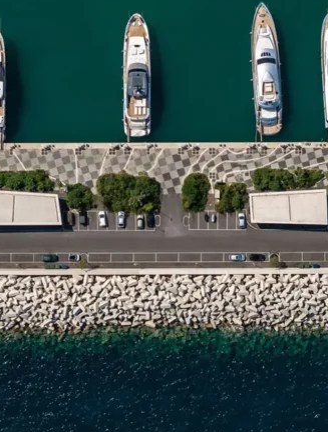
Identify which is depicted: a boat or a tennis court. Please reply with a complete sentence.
I can see a boat in this picture.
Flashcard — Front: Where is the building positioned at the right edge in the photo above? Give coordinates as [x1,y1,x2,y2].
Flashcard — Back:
[248,189,328,226]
